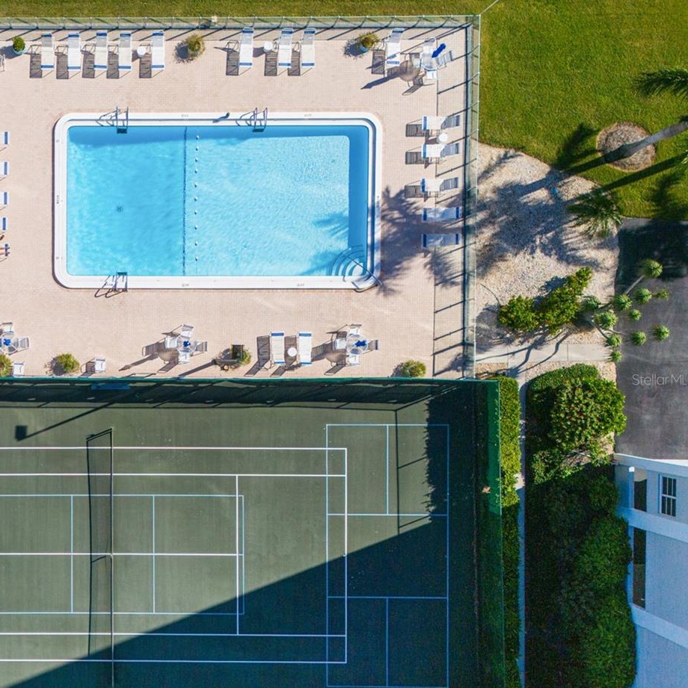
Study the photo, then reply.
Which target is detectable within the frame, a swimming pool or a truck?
swimming pool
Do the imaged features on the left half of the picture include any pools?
Yes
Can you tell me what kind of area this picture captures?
sports ground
